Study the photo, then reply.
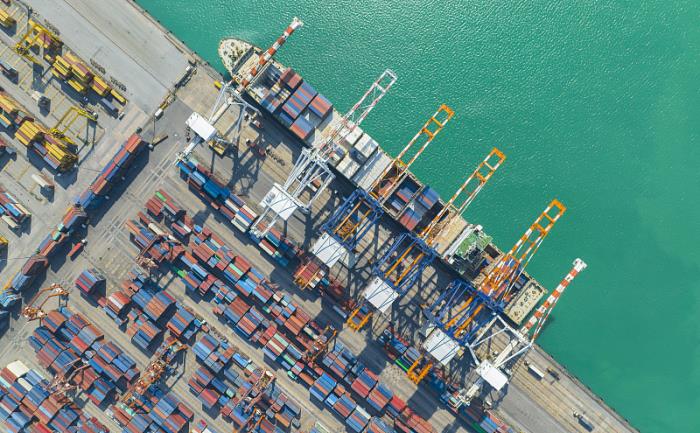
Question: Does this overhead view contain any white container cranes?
Yes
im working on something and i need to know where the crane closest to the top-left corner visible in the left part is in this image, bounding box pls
[12,21,66,70]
